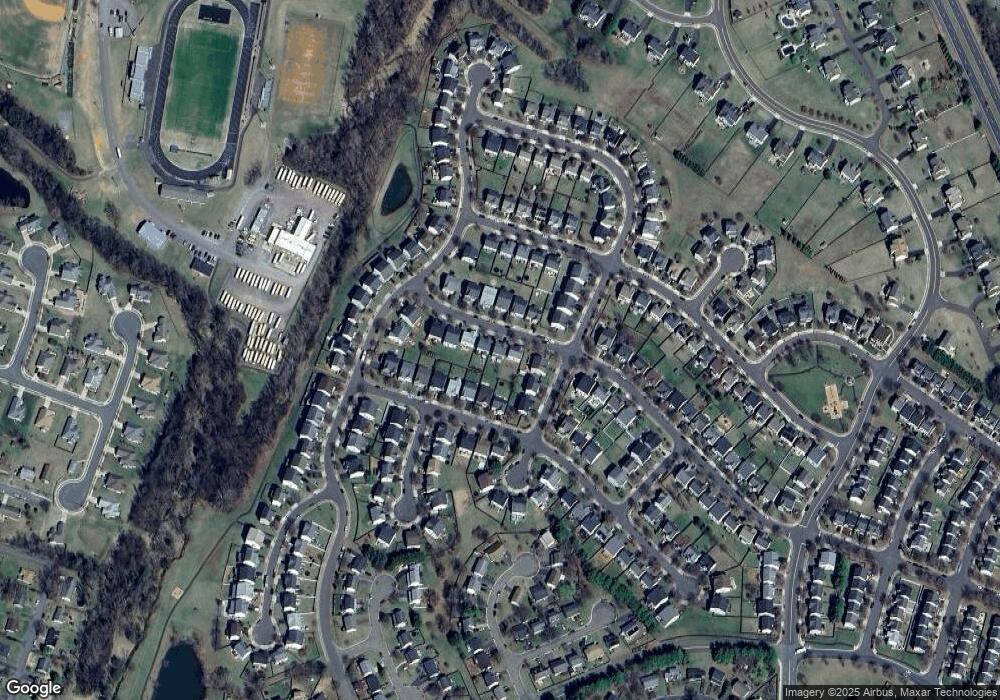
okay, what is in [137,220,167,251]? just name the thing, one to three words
building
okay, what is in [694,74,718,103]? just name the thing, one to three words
house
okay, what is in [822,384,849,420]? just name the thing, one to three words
playground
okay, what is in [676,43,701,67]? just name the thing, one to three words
house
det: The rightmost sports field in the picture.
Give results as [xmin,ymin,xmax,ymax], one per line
[165,22,241,139]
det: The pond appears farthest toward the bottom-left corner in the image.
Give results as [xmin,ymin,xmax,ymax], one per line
[153,638,209,700]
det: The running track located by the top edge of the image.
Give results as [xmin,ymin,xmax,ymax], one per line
[146,0,260,185]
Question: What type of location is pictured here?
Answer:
residential area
